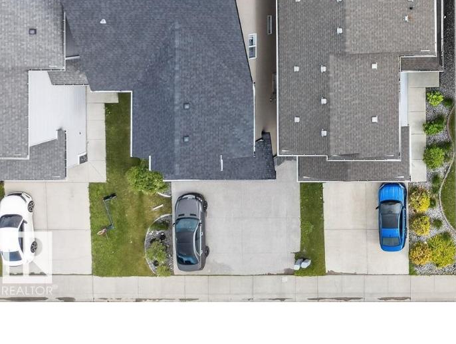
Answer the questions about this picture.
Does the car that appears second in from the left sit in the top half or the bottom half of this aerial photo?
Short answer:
bottom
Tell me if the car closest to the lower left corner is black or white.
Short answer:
white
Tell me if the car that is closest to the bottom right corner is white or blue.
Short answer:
blue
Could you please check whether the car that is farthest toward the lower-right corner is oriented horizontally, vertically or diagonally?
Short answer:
vertically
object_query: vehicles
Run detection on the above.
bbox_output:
[0,189,39,266]
[374,181,409,252]
[170,190,210,270]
